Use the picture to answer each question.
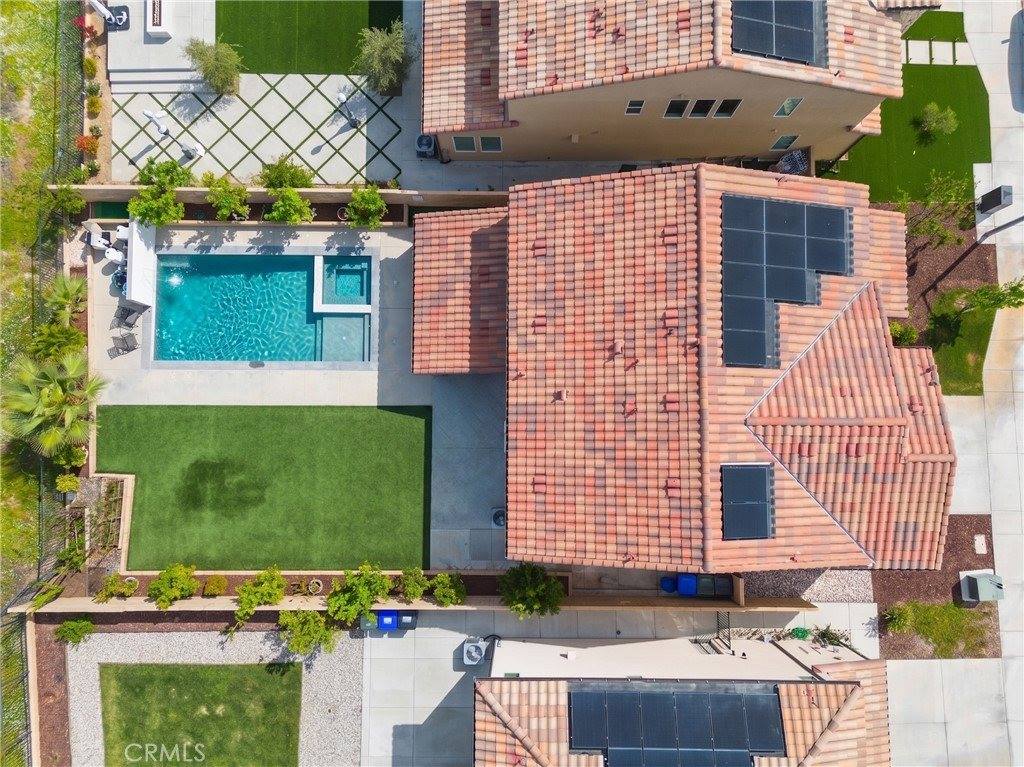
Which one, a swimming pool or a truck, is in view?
swimming pool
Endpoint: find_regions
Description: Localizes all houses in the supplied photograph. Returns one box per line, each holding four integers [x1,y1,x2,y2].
[473,640,894,767]
[410,163,963,571]
[419,0,946,161]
